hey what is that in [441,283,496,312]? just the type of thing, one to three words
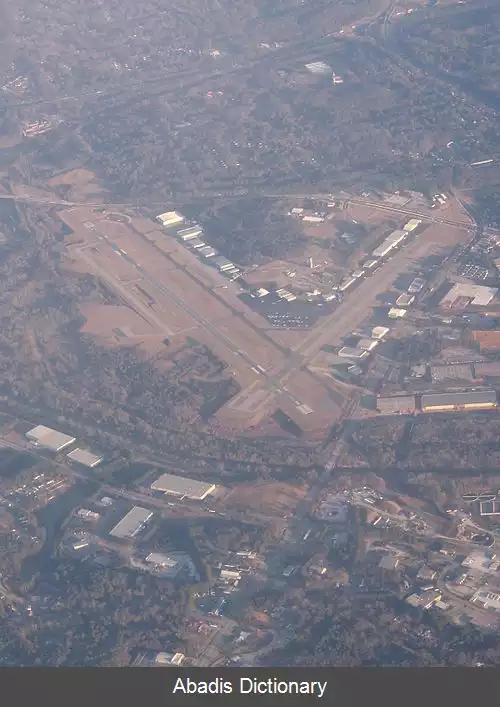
building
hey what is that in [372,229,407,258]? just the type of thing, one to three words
hangar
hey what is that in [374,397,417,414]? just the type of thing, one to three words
building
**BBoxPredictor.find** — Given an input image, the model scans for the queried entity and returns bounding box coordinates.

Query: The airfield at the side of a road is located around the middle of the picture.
[57,206,474,438]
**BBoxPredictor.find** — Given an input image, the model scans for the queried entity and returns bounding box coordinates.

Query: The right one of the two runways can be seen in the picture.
[244,237,441,407]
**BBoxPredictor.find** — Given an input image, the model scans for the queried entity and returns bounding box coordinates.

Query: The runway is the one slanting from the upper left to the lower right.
[95,230,309,409]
